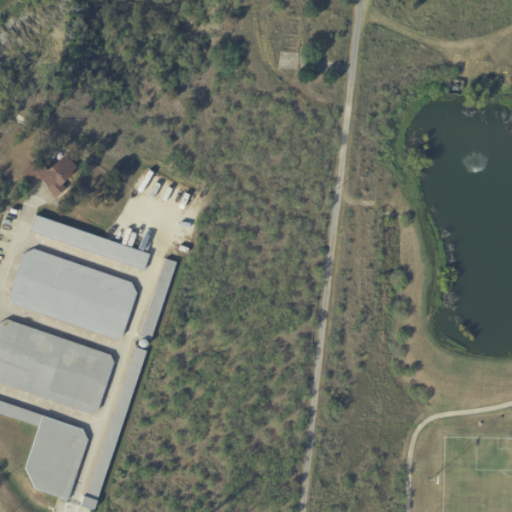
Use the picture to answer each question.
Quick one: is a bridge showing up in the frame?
No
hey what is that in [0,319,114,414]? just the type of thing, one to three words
building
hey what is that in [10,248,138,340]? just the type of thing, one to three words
building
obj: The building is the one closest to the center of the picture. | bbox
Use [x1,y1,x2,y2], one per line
[140,258,176,337]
